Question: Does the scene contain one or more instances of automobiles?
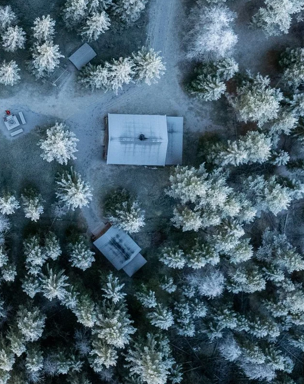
No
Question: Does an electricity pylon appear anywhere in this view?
No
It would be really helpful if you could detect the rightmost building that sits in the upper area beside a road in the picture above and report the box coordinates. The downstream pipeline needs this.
[97,114,182,166]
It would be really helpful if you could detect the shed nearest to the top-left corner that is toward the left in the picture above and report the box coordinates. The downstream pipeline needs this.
[68,42,97,70]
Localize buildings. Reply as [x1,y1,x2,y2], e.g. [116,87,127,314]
[97,114,182,166]
[87,217,142,271]
[68,42,97,70]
